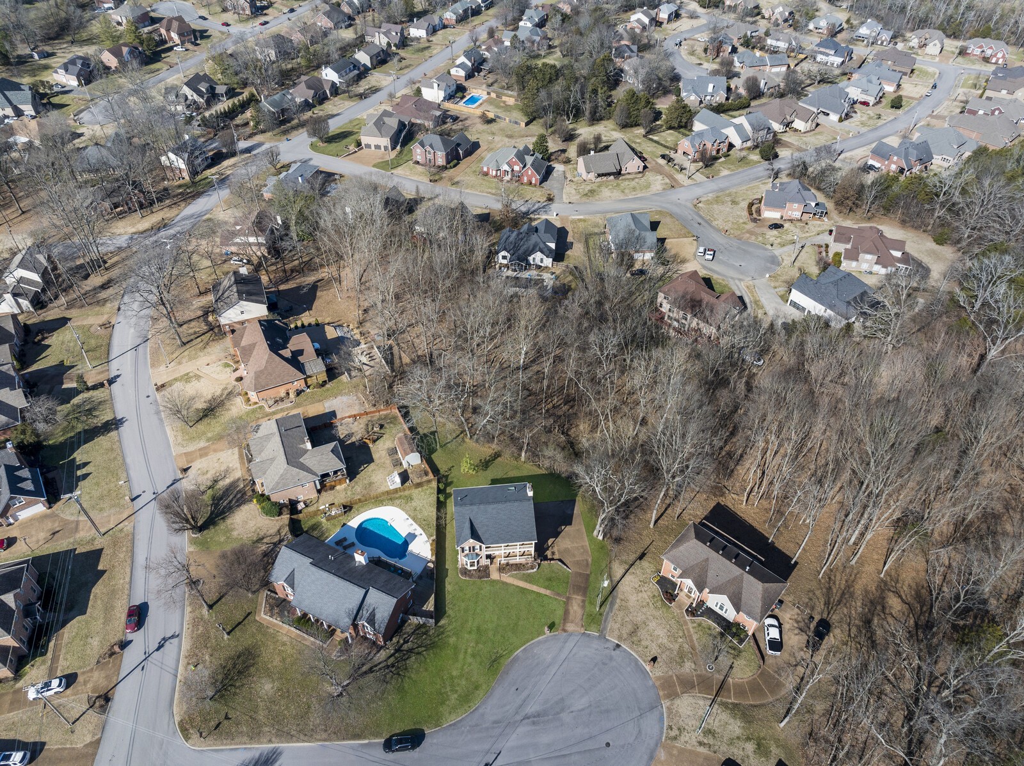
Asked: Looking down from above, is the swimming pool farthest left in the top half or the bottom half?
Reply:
bottom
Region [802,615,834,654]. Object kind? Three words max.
truck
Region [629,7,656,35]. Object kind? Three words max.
house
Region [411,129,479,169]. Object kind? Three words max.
house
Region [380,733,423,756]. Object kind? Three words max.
car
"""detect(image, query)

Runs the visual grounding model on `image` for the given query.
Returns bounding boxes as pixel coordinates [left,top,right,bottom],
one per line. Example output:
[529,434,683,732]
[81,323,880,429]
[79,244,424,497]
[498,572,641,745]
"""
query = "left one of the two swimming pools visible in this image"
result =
[325,506,432,577]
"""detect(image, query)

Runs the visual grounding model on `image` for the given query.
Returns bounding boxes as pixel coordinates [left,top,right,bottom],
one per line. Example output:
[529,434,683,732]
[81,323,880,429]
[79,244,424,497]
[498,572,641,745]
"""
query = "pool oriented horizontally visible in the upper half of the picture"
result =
[461,92,489,105]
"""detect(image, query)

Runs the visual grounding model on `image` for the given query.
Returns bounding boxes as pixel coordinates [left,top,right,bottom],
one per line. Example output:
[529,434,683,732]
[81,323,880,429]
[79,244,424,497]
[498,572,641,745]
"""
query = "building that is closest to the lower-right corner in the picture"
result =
[660,517,789,634]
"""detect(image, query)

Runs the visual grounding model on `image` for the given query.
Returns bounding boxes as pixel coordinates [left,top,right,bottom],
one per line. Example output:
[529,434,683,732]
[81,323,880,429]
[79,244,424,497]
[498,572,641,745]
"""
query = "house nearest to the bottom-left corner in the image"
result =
[0,552,56,692]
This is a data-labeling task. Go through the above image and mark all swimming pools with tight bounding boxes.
[461,92,489,105]
[325,506,432,577]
